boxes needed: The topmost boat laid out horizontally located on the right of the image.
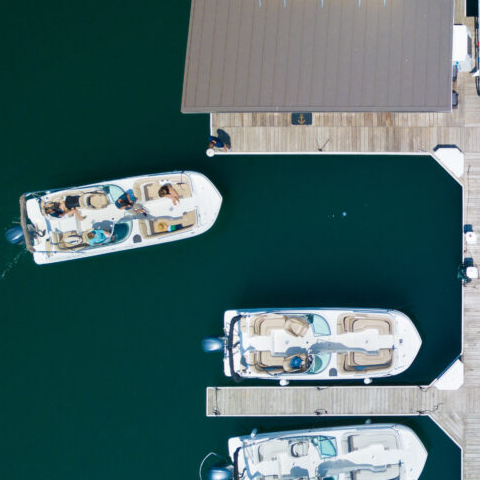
[200,307,422,380]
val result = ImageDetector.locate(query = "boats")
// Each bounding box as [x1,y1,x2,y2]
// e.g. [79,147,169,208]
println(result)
[206,421,427,480]
[200,307,422,380]
[7,170,222,266]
